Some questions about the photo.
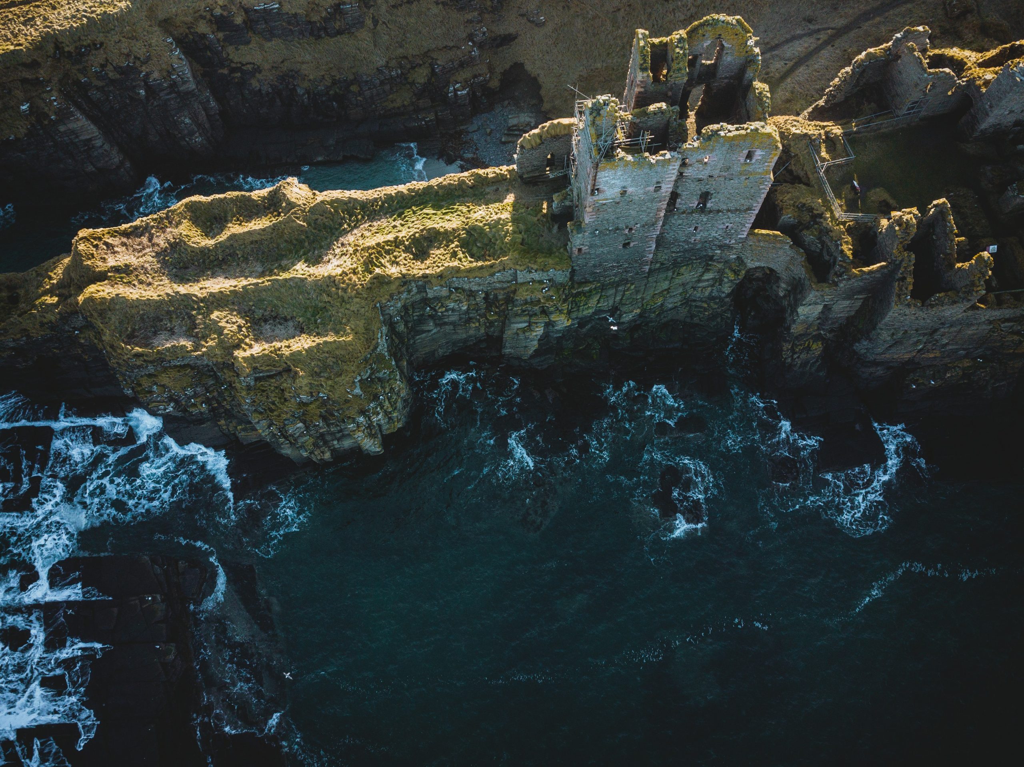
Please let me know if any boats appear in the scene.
No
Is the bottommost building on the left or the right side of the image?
right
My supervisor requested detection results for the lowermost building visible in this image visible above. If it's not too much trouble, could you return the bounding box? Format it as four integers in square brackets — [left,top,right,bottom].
[861,180,1005,338]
